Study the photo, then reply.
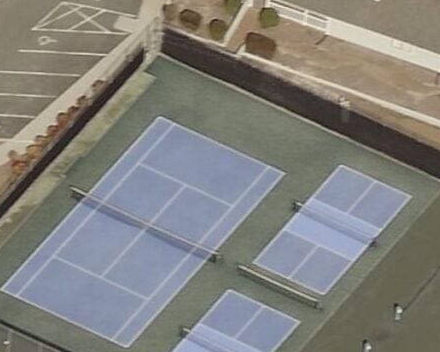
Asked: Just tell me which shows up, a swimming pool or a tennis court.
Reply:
tennis court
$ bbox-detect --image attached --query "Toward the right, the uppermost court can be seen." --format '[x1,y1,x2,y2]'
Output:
[254,164,411,294]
